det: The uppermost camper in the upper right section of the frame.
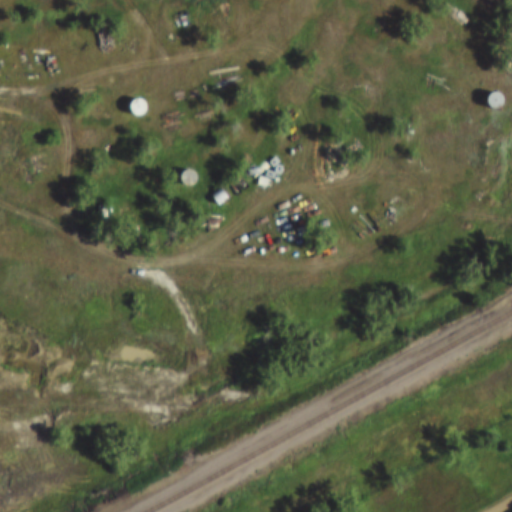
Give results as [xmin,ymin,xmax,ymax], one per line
[452,8,468,24]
